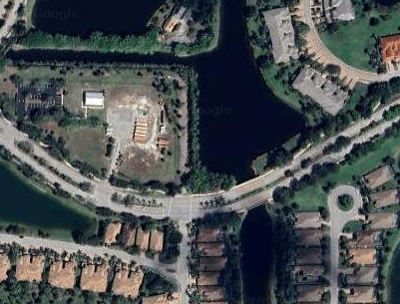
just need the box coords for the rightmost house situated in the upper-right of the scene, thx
[379,33,400,69]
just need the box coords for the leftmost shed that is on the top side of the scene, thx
[83,91,105,108]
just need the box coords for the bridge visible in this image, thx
[226,172,271,212]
